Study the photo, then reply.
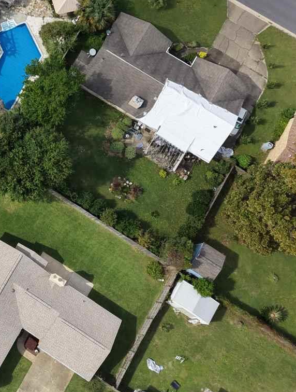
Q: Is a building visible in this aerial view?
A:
Yes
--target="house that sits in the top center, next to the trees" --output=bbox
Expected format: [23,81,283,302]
[78,12,264,146]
